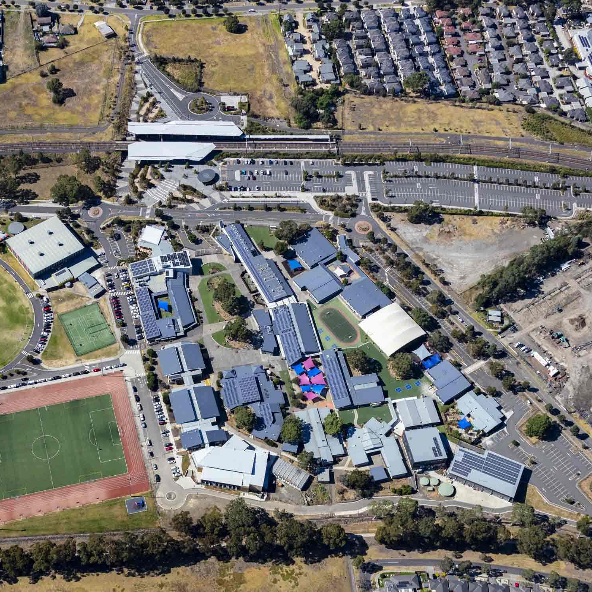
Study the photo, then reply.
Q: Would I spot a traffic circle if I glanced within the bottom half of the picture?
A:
No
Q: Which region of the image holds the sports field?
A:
bottom left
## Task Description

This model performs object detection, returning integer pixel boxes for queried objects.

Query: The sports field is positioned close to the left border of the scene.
[0,394,128,500]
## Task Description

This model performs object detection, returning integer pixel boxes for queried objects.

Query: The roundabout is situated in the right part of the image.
[345,212,384,243]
